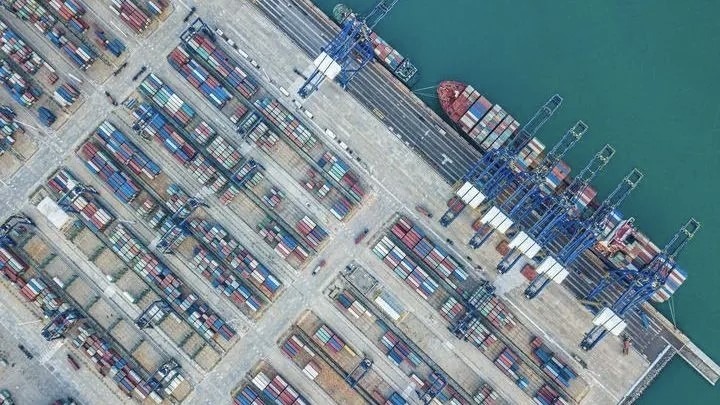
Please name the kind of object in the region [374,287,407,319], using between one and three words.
shed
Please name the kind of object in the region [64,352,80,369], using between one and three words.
vehicle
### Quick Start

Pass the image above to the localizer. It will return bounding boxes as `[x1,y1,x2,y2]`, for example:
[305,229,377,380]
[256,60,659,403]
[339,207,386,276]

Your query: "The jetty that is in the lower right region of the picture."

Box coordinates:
[656,326,720,385]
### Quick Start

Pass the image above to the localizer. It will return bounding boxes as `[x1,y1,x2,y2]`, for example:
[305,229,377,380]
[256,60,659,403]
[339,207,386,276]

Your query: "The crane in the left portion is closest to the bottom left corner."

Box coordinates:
[43,311,89,348]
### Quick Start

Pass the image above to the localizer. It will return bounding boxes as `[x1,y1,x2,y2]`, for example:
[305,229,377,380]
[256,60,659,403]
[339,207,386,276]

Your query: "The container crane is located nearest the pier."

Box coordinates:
[577,218,700,354]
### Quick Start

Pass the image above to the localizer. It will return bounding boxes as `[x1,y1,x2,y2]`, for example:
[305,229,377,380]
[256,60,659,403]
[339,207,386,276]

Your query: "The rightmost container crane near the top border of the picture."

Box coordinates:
[297,0,398,98]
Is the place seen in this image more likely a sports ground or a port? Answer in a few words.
port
